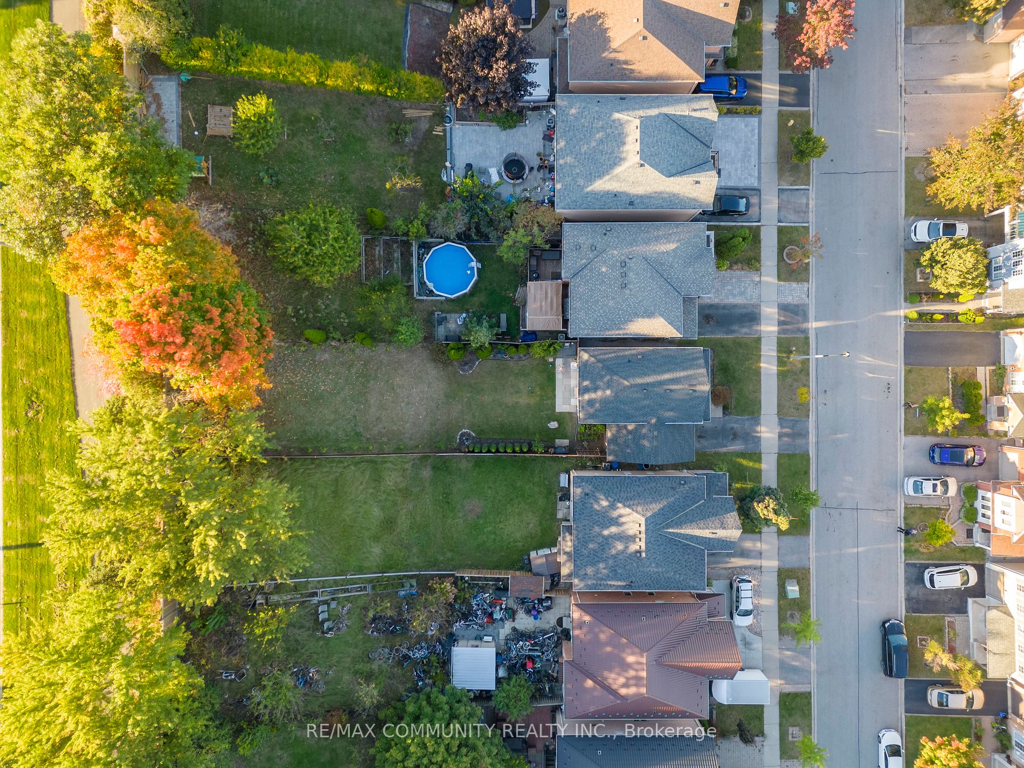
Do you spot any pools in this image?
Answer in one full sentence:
Yes, the picture does show a pool.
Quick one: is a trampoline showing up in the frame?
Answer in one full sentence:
Yes, the picture does show a trampoline.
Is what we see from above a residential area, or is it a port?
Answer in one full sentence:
This image shows a residential area.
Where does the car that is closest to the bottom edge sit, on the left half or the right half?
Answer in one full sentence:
The car that is closest to the bottom edge sits on the right side.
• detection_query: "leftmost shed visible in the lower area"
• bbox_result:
[451,639,496,690]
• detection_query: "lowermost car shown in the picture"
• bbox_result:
[873,725,902,768]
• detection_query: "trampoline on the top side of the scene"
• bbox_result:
[501,148,530,184]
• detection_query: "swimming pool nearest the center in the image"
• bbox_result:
[423,243,487,297]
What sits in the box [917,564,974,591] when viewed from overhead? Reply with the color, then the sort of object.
white car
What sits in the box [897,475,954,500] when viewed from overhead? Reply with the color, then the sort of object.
white car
